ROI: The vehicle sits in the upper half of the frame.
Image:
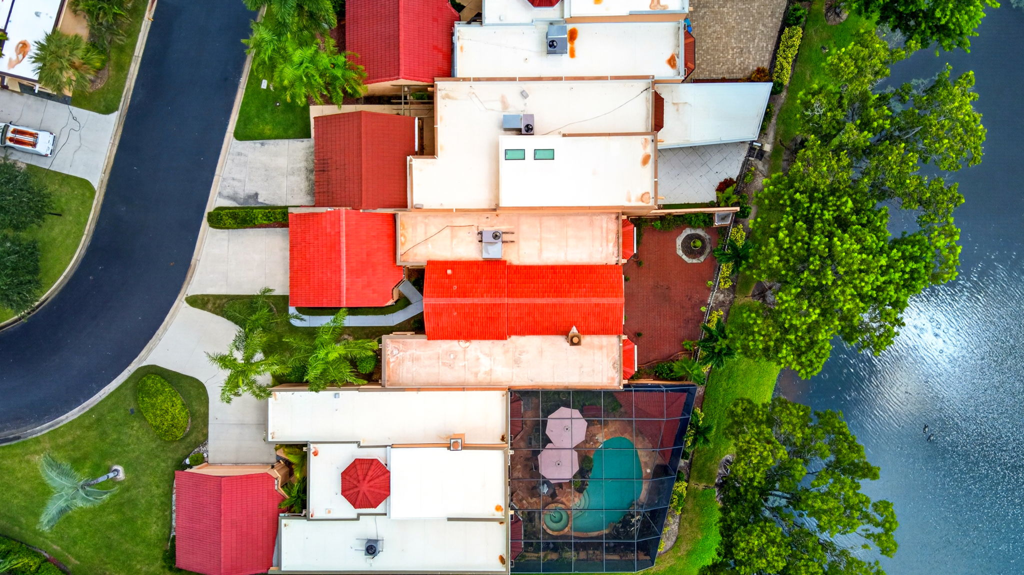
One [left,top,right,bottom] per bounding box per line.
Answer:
[0,120,57,157]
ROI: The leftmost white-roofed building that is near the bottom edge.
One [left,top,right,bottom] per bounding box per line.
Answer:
[174,383,525,575]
